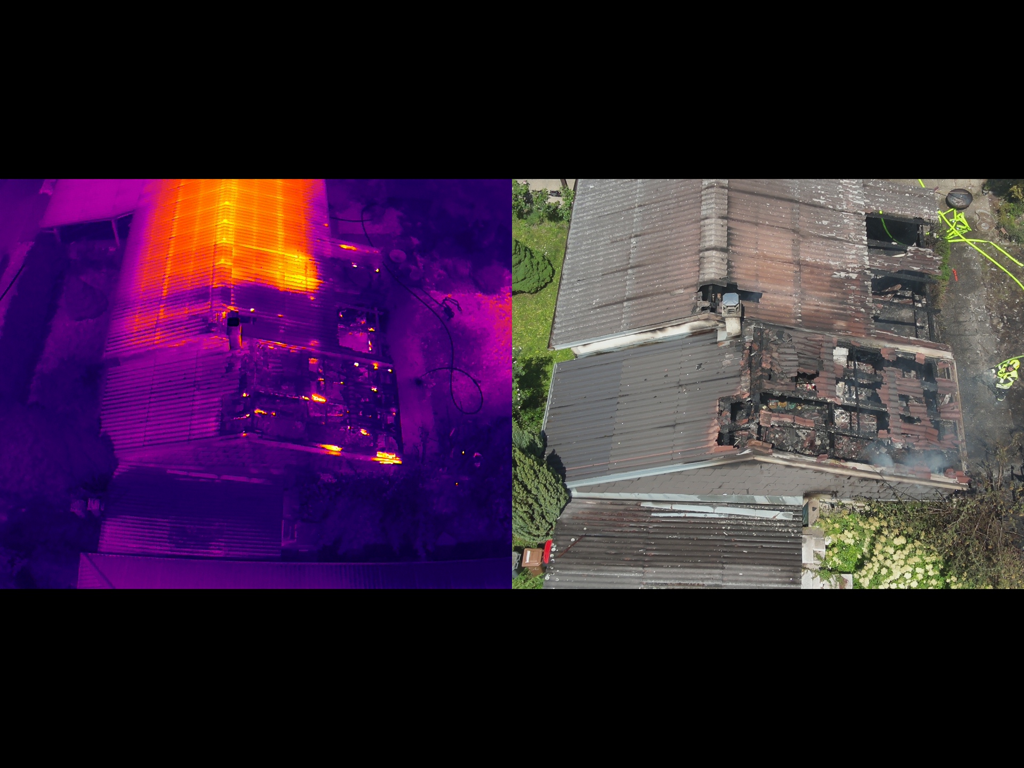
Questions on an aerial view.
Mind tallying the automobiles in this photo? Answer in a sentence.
Not a single automobile can be seen.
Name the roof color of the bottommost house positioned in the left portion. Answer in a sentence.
The color of the roof on the bottommost house positioned in the left portion is purple.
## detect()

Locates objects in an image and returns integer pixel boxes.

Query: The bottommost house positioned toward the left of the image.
[68,553,512,589]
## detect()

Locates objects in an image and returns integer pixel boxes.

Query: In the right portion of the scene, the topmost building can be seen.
[545,179,955,406]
